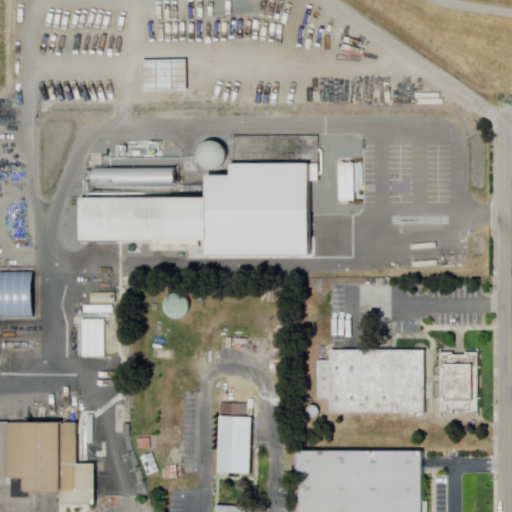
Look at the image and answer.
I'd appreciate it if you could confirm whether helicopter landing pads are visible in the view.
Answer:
No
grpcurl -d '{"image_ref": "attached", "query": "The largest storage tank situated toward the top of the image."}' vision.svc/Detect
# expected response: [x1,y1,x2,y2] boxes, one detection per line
[190,135,229,173]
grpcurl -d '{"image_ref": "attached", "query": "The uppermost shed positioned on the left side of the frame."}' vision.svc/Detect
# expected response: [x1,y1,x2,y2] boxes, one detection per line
[144,60,186,91]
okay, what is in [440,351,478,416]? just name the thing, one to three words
building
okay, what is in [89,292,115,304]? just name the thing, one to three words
shed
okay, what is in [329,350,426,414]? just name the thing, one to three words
building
